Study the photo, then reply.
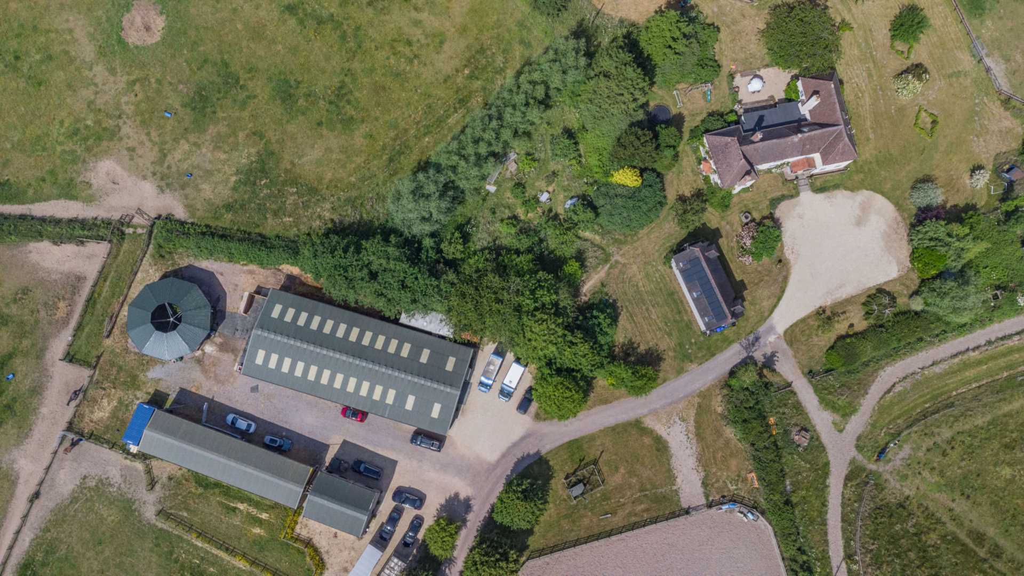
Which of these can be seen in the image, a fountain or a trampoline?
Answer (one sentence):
It is a trampoline that can be seen here.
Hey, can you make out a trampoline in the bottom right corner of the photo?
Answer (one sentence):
No, no trampoline is visible in the bottom right corner of the photo.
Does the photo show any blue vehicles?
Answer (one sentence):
Yes, the frame does contain a blue vehicle.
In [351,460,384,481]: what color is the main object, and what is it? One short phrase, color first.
black car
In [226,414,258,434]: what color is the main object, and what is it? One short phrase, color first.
blue car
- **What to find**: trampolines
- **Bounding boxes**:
[650,99,675,124]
